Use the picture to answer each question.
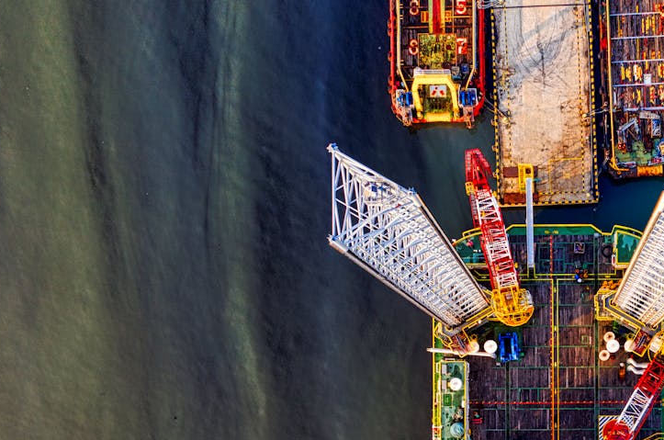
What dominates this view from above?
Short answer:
water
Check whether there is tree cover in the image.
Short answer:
No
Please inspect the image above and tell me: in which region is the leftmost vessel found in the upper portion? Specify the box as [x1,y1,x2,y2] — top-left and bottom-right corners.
[386,0,485,126]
